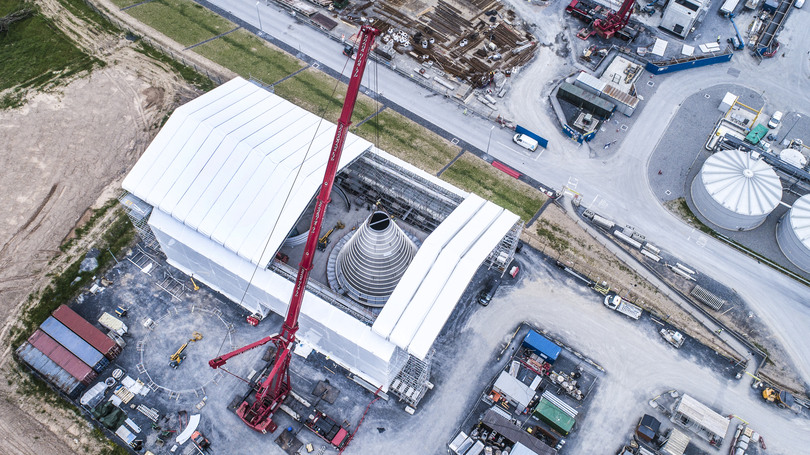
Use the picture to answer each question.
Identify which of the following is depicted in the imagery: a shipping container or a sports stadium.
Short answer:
shipping container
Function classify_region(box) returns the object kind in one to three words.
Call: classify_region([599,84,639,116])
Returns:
building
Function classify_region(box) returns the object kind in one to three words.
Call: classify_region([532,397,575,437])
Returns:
shipping container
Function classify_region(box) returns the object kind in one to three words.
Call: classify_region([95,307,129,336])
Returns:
truck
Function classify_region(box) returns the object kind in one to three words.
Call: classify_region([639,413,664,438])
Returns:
shed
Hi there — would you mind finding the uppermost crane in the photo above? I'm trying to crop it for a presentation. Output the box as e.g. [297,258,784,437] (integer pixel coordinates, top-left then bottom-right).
[551,0,640,53]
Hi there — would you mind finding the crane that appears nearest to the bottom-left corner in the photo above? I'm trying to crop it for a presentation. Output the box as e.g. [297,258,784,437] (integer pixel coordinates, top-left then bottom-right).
[202,17,389,449]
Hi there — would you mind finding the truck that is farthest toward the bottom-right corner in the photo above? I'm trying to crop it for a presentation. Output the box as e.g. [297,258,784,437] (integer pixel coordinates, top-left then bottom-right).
[763,387,795,408]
